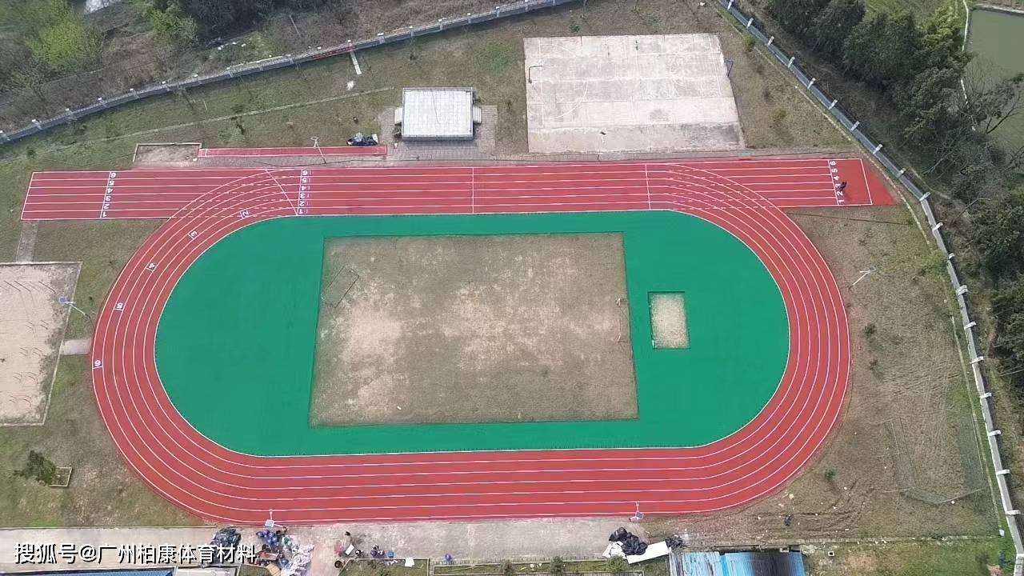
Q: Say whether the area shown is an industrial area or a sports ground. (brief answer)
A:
sports ground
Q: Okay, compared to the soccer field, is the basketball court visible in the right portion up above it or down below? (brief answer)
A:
above it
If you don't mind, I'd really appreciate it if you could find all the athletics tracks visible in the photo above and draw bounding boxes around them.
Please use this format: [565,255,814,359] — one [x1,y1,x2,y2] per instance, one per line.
[15,157,894,531]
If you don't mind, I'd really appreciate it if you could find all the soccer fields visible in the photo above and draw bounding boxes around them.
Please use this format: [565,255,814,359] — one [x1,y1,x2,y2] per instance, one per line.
[310,233,638,425]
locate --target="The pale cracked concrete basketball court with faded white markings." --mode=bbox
[524,33,745,152]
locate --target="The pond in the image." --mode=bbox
[965,9,1024,174]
